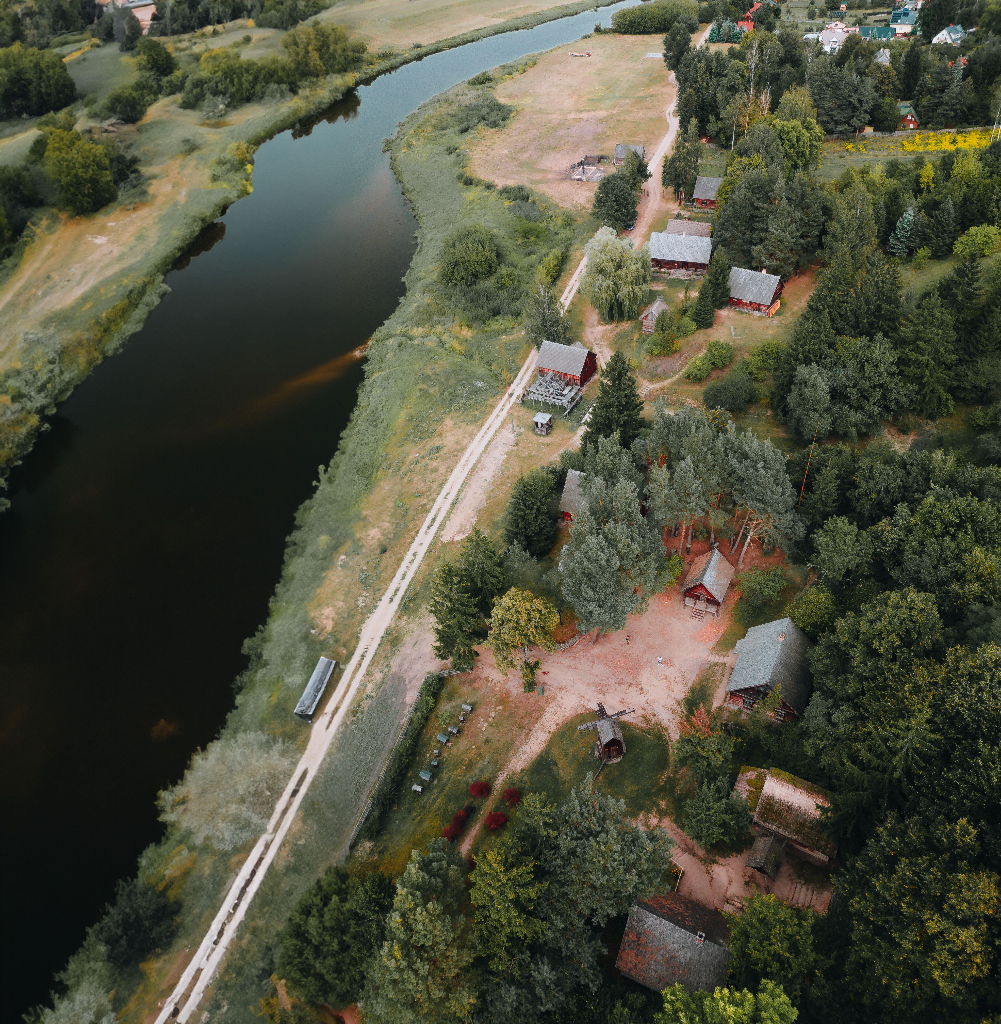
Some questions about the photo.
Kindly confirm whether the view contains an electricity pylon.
No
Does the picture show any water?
Yes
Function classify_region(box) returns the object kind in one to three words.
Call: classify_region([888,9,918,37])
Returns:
house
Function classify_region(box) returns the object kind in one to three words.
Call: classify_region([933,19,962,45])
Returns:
house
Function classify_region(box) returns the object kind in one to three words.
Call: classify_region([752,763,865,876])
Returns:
barn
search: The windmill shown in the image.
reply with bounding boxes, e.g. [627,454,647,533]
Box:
[576,701,634,787]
